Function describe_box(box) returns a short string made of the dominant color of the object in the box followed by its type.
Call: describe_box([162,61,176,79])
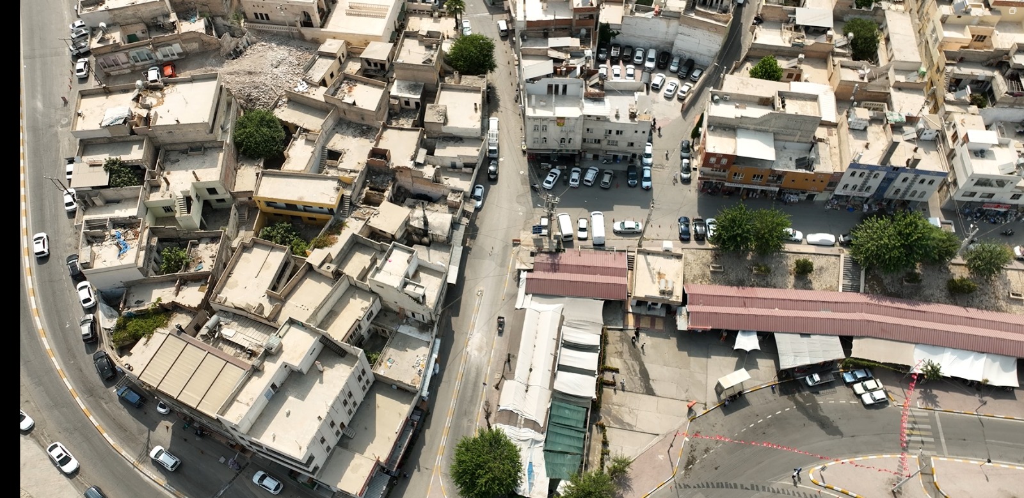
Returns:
red car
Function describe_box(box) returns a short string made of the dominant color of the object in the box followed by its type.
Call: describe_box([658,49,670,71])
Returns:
black vehicle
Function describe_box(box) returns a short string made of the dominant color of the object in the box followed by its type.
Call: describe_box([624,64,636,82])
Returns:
white vehicle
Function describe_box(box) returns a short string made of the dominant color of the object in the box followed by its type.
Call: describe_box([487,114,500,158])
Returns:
white vehicle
